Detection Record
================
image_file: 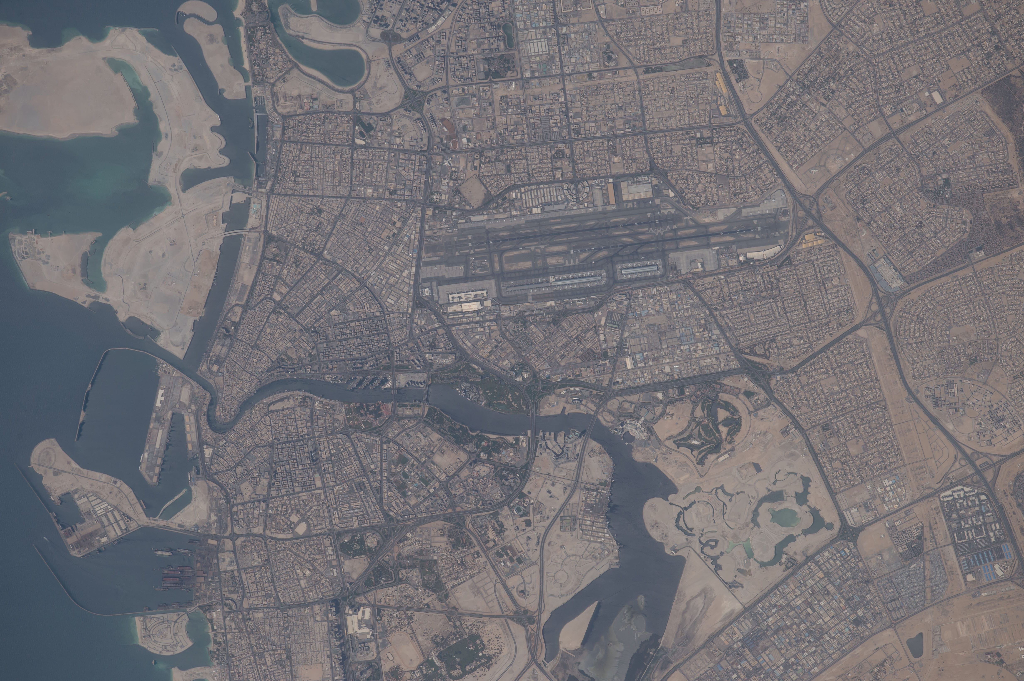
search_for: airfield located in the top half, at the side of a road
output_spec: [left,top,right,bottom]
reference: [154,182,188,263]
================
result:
[419,178,790,305]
